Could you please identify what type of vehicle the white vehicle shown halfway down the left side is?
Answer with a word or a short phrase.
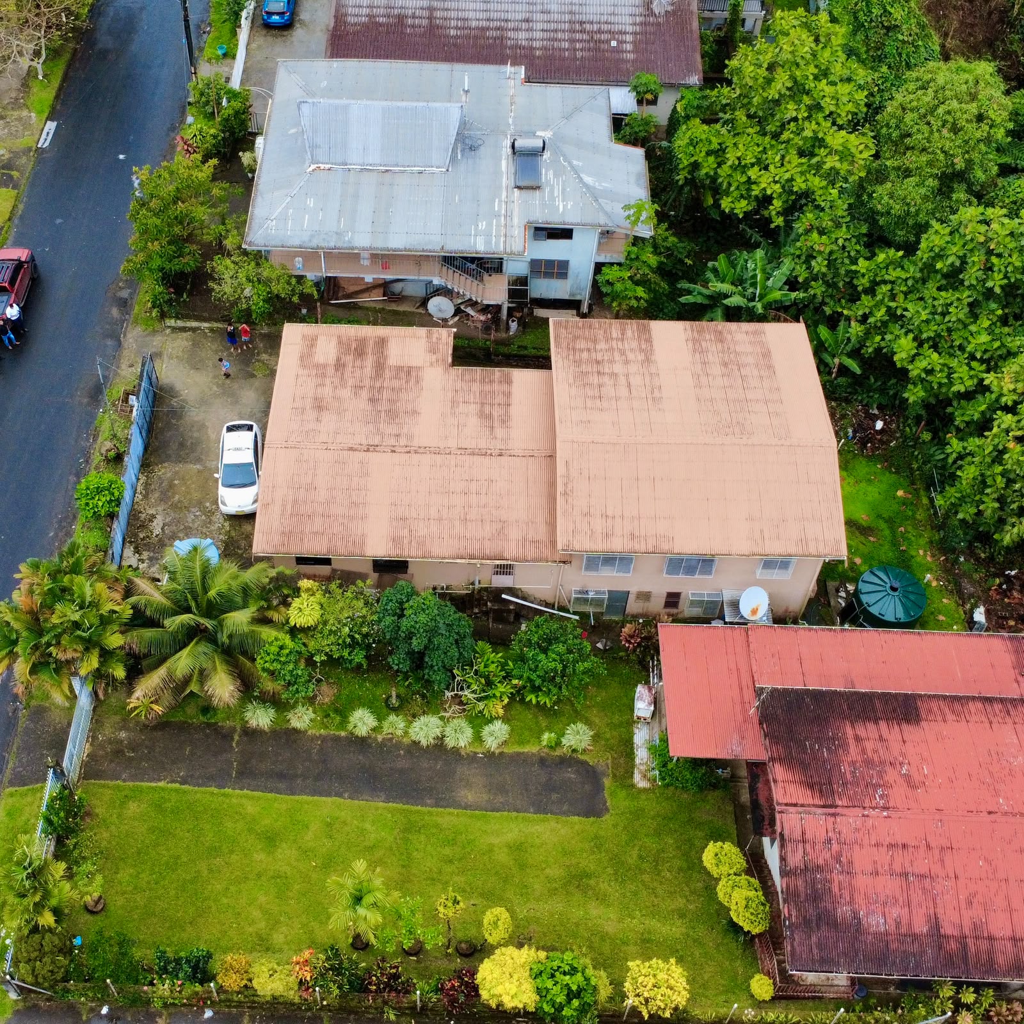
automobile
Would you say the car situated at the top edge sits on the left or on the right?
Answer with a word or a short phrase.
left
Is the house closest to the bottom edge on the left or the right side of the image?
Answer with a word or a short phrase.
right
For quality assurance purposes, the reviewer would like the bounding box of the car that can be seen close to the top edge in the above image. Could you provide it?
[261,0,296,24]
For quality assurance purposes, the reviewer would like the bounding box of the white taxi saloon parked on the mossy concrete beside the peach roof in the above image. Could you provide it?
[213,422,264,515]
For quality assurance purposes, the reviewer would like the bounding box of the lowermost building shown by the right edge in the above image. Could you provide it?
[656,619,1024,995]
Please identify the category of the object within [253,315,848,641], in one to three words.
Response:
house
